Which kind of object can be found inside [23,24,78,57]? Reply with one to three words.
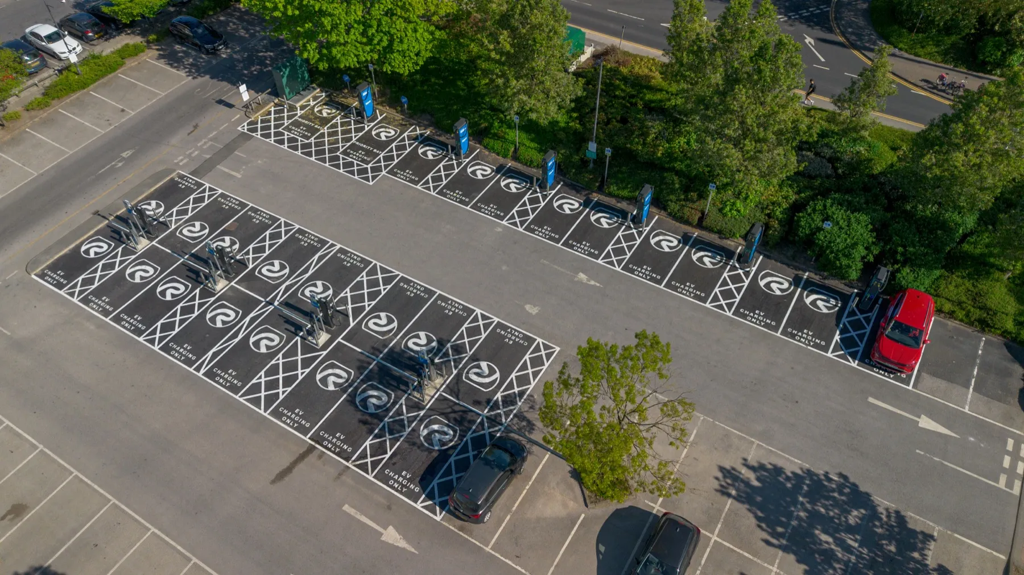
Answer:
car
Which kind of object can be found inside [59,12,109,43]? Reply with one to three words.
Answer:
car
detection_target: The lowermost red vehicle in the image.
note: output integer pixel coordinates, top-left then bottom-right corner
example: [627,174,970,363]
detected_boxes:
[872,291,930,370]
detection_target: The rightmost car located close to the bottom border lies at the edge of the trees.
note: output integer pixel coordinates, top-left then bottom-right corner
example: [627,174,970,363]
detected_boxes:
[626,510,701,575]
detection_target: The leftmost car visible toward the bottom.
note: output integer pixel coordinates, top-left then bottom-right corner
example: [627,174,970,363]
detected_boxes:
[449,436,530,527]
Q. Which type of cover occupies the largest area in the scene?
paved ground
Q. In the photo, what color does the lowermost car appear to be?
black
